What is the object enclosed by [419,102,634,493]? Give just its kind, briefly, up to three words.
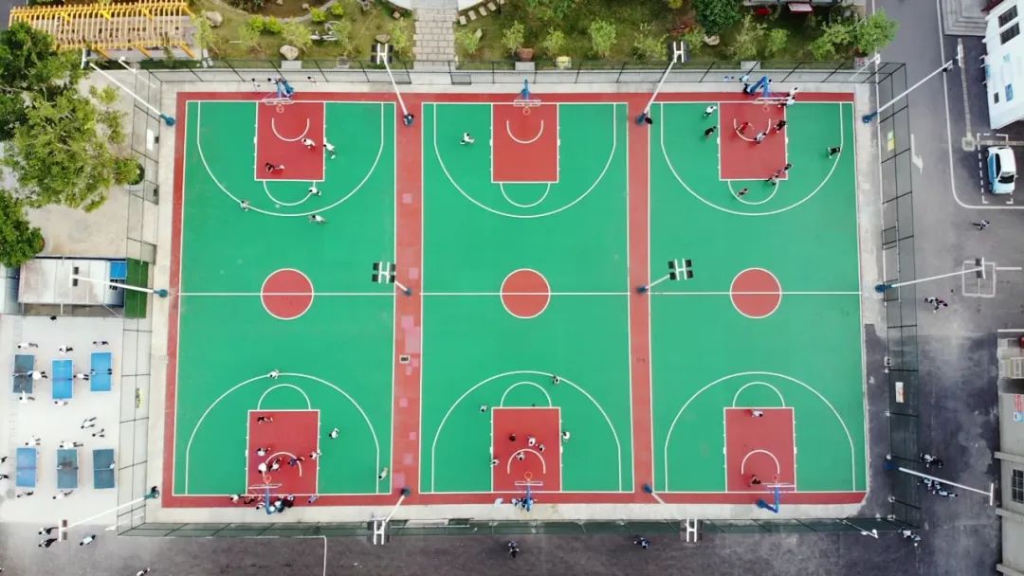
basketball court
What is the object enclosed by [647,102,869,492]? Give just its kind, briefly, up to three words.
basketball court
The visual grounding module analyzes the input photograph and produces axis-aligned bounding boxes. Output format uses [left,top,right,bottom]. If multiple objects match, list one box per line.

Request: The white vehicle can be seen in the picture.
[986,145,1022,193]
